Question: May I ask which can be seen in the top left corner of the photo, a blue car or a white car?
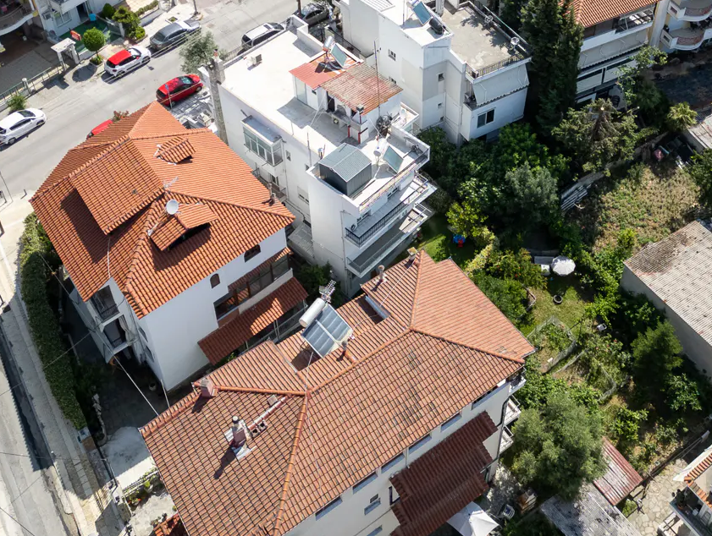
white car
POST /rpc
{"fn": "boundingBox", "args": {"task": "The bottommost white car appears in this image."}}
[0,100,49,139]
